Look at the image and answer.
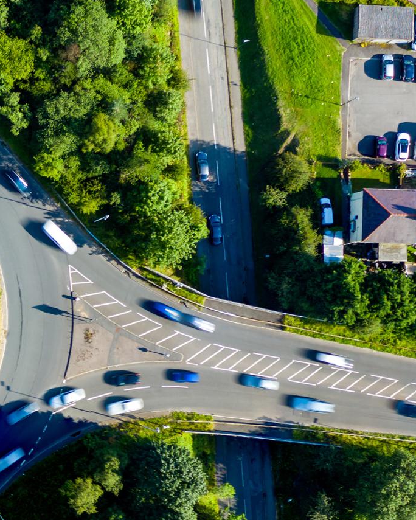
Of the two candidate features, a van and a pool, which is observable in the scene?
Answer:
van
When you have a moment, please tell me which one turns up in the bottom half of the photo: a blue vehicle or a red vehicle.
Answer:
blue vehicle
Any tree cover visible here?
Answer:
Yes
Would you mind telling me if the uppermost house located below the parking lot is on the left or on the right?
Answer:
right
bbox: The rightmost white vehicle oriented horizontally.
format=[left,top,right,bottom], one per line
[315,351,350,369]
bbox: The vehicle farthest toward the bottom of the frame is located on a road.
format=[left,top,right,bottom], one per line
[0,446,25,473]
